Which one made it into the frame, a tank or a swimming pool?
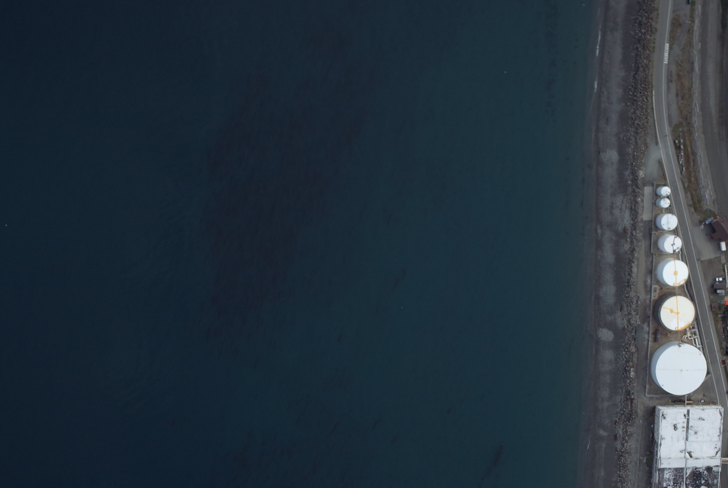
tank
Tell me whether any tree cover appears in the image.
No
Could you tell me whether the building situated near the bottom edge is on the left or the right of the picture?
right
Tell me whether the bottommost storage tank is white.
Yes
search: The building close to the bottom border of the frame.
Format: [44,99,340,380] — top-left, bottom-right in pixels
[653,395,724,488]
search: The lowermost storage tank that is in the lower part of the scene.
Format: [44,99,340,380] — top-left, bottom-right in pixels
[650,341,707,395]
